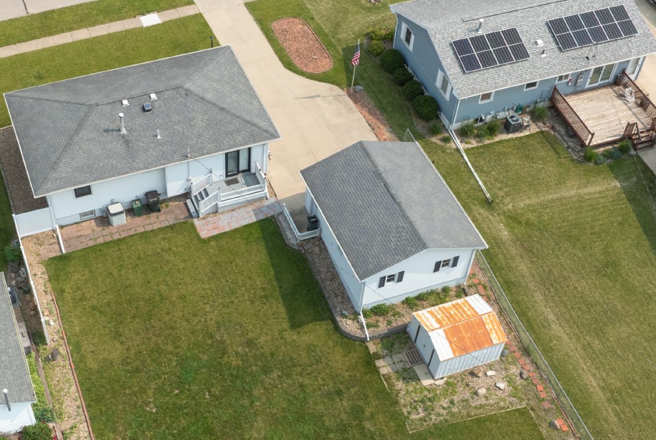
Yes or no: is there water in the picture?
No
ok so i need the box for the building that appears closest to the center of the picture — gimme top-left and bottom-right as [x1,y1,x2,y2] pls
[298,138,489,339]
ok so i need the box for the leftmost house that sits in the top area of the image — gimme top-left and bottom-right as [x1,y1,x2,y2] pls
[3,44,281,220]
